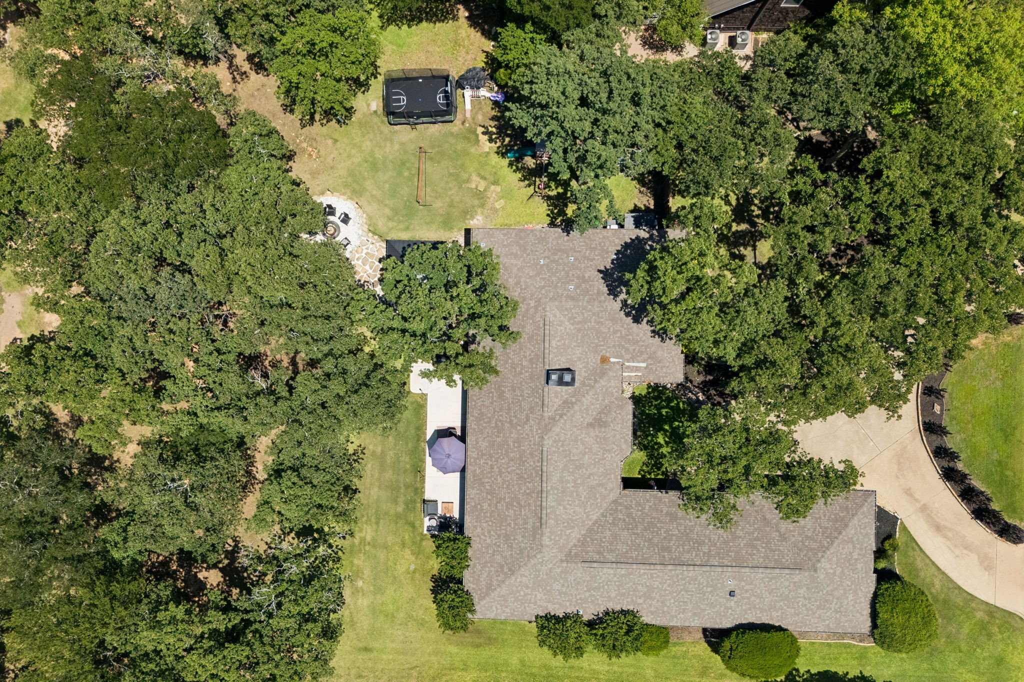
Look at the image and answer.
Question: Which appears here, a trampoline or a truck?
trampoline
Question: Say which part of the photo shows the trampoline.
top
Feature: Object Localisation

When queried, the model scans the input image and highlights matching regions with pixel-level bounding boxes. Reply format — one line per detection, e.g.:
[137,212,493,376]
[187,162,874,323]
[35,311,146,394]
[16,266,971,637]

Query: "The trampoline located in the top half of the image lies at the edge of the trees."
[384,68,458,137]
